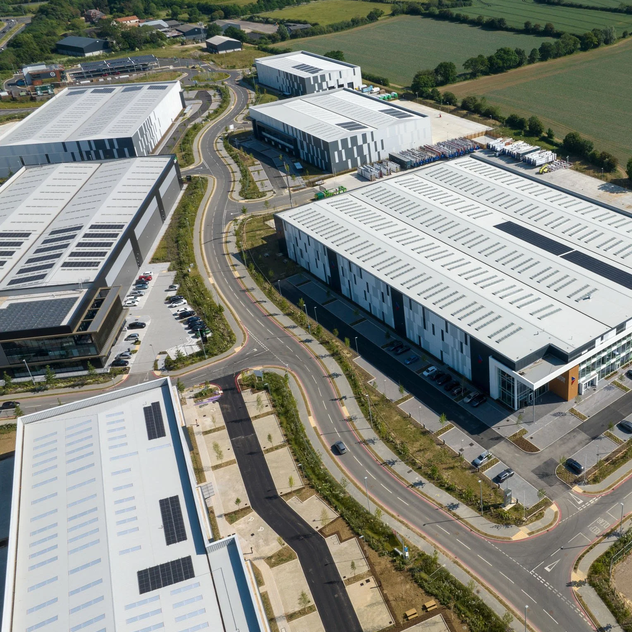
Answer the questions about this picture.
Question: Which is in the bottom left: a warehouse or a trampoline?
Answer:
warehouse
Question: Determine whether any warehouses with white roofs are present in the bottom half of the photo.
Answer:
Yes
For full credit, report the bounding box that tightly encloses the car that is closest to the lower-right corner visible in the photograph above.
[564,456,585,473]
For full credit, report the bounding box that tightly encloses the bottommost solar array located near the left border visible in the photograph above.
[0,297,72,331]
